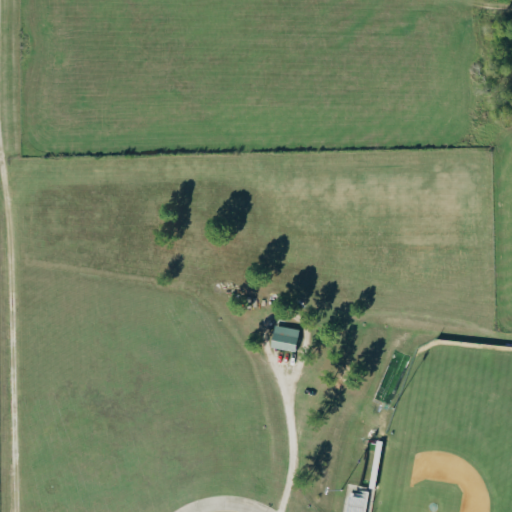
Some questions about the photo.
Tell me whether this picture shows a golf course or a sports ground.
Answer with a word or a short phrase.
sports ground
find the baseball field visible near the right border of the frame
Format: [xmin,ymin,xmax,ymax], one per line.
[373,338,512,512]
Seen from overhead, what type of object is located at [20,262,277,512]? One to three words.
baseball field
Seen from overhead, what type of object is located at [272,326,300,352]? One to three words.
shed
